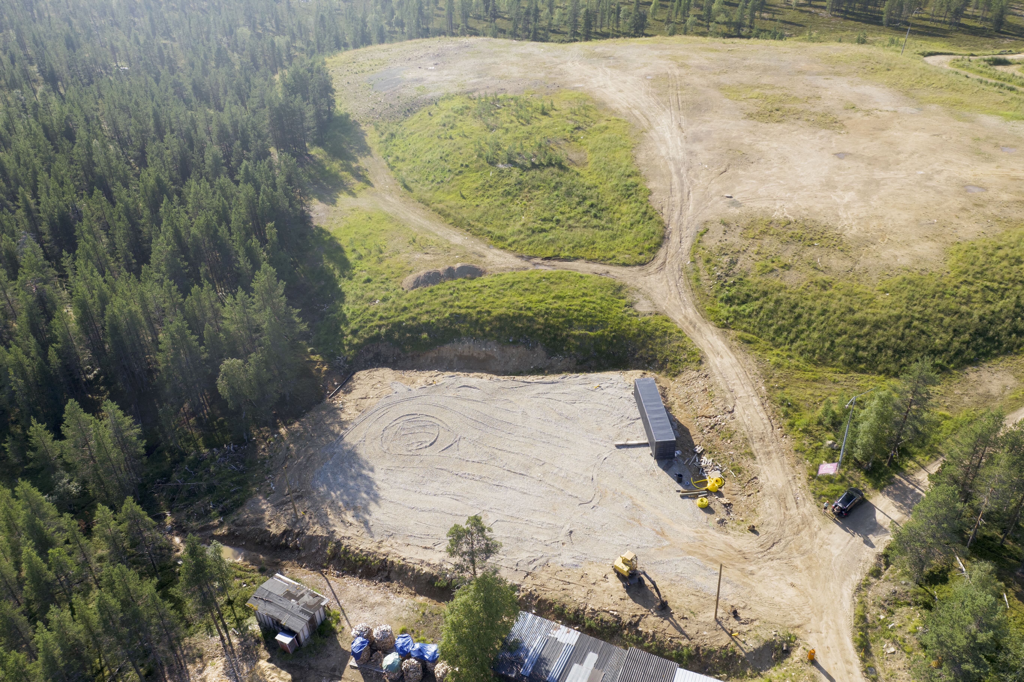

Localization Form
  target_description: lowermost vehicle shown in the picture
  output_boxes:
[612,549,670,605]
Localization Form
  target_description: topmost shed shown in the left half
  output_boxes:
[244,575,330,645]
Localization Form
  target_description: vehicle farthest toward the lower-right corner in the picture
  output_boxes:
[827,488,865,521]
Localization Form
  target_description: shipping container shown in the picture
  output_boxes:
[634,377,677,458]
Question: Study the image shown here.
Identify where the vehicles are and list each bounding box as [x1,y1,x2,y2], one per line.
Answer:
[612,549,670,605]
[827,488,865,521]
